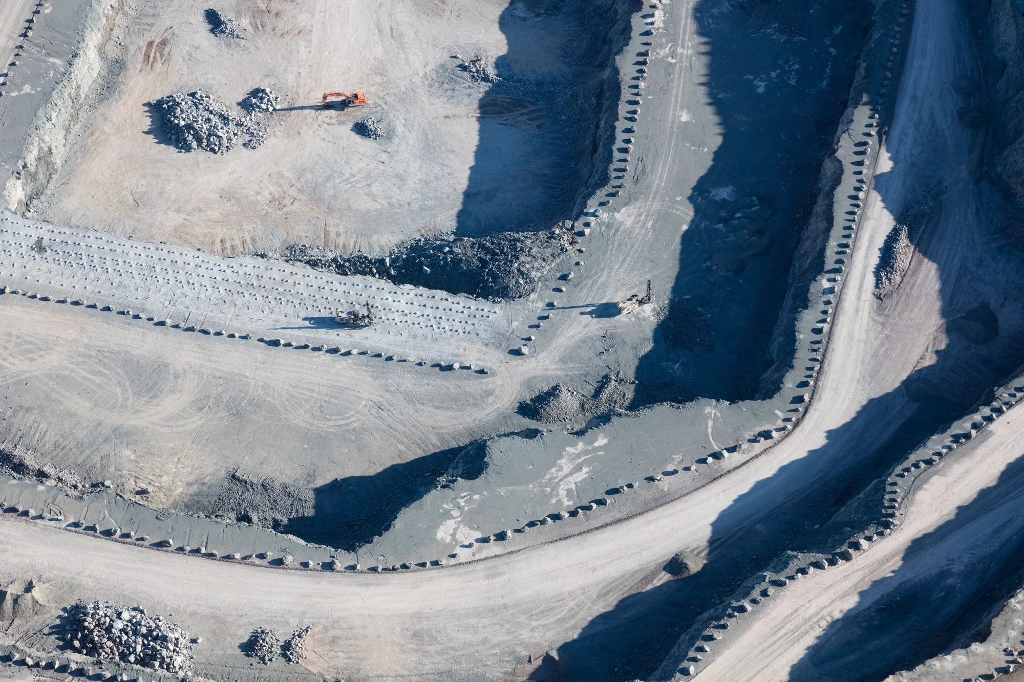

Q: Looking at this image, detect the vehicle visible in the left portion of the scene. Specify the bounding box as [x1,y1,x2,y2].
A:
[324,89,368,112]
